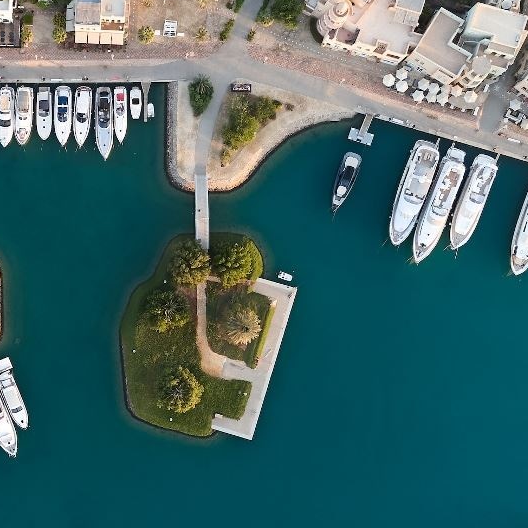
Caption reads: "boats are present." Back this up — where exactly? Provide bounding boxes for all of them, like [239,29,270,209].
[55,86,72,154]
[509,185,528,274]
[148,104,155,119]
[279,272,293,282]
[73,86,92,154]
[448,150,464,159]
[446,148,494,257]
[95,86,114,161]
[0,78,15,147]
[129,89,142,121]
[389,137,437,247]
[407,153,464,273]
[330,152,360,212]
[113,87,127,150]
[0,372,30,432]
[0,388,17,456]
[36,87,52,140]
[14,78,33,147]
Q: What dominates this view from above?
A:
water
